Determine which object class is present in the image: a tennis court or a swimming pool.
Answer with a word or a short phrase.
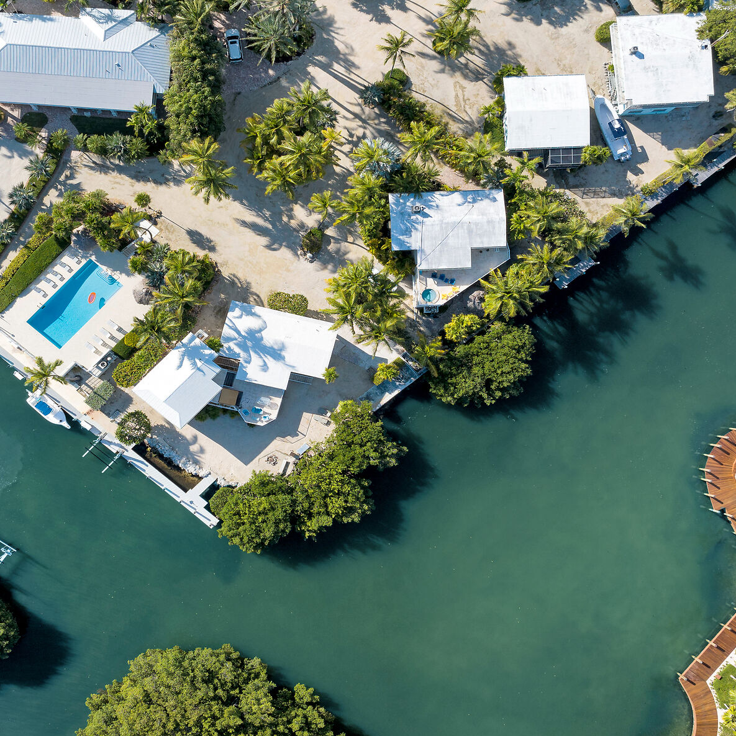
swimming pool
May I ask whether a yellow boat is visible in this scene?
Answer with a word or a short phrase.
No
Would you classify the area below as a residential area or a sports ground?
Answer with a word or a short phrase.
residential area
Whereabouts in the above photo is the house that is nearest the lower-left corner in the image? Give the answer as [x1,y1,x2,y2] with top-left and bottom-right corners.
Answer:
[132,332,224,429]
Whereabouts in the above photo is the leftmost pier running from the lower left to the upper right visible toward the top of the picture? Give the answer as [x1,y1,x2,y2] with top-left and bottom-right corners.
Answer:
[555,259,596,290]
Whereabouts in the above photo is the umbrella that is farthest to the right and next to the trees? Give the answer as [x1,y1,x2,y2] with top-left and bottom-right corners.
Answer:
[129,281,156,307]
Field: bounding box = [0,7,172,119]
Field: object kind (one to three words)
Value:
house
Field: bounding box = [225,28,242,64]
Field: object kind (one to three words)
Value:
car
